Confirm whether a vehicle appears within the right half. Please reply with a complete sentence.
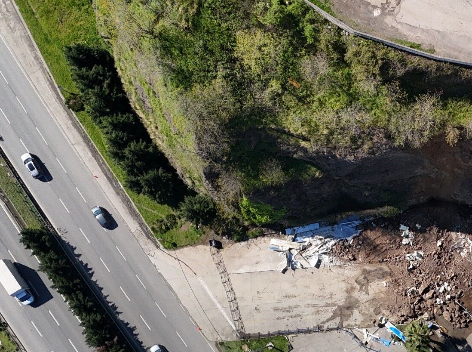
No, no vehicle appears within the right half.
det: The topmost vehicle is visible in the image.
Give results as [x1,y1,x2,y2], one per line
[22,153,44,181]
